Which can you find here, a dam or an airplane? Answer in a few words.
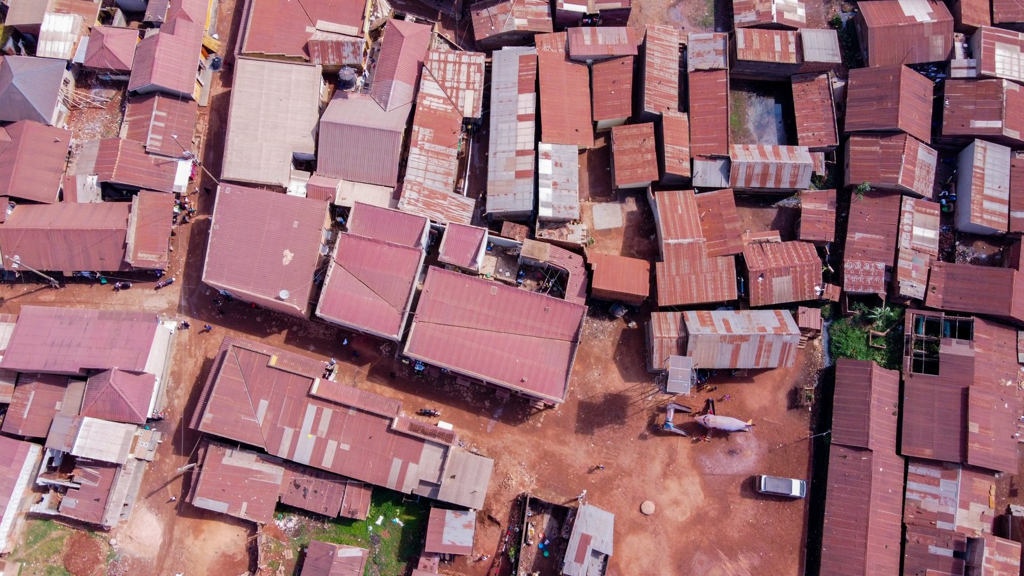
airplane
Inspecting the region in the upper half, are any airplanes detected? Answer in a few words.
No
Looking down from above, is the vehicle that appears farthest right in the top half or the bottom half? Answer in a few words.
bottom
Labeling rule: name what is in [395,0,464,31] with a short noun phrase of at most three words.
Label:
house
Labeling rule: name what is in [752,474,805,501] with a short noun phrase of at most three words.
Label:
vehicle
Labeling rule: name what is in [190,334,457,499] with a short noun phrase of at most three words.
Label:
building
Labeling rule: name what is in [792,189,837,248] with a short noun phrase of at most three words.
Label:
shed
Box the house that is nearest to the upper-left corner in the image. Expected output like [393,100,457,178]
[5,0,47,43]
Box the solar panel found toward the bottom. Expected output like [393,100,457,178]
[667,355,692,394]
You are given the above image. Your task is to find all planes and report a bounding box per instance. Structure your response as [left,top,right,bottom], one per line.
[692,396,755,441]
